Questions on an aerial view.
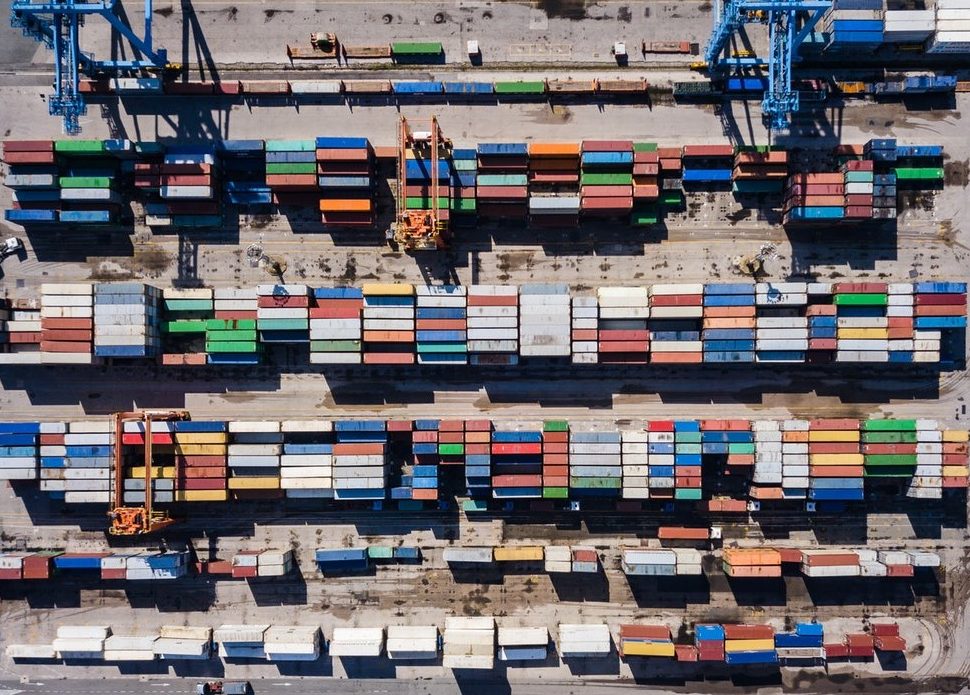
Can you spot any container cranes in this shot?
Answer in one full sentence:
Yes, the picture does show a container crane.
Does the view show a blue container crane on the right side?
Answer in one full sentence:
Yes, a blue container crane can be seen on the right side.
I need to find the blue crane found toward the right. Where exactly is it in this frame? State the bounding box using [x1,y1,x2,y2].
[690,0,835,138]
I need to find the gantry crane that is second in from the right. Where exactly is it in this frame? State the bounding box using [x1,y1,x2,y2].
[385,116,458,255]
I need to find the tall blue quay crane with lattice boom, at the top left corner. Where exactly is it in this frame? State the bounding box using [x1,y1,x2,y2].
[0,0,180,138]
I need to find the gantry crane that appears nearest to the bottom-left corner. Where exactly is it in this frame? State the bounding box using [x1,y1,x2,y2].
[101,409,190,544]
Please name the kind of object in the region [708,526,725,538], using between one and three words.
vehicle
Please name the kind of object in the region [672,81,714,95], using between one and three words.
rail car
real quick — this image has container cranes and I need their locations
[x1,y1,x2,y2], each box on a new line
[385,116,458,255]
[101,409,190,544]
[690,0,835,138]
[0,0,180,138]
